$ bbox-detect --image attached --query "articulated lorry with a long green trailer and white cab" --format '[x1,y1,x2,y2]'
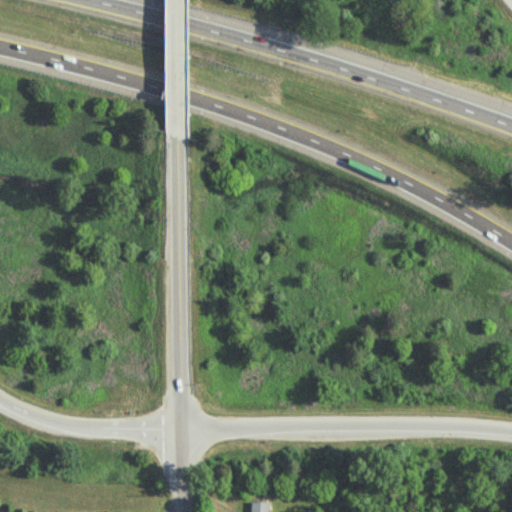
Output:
[348,158,398,186]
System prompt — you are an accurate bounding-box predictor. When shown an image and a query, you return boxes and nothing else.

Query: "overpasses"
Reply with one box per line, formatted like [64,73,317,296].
[164,0,192,138]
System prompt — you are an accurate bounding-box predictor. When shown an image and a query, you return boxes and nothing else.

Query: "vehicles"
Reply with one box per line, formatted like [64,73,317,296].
[252,36,266,43]
[178,378,183,392]
[62,56,78,64]
[348,158,398,186]
[486,231,500,242]
[351,75,363,82]
[52,63,65,70]
[10,43,24,50]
